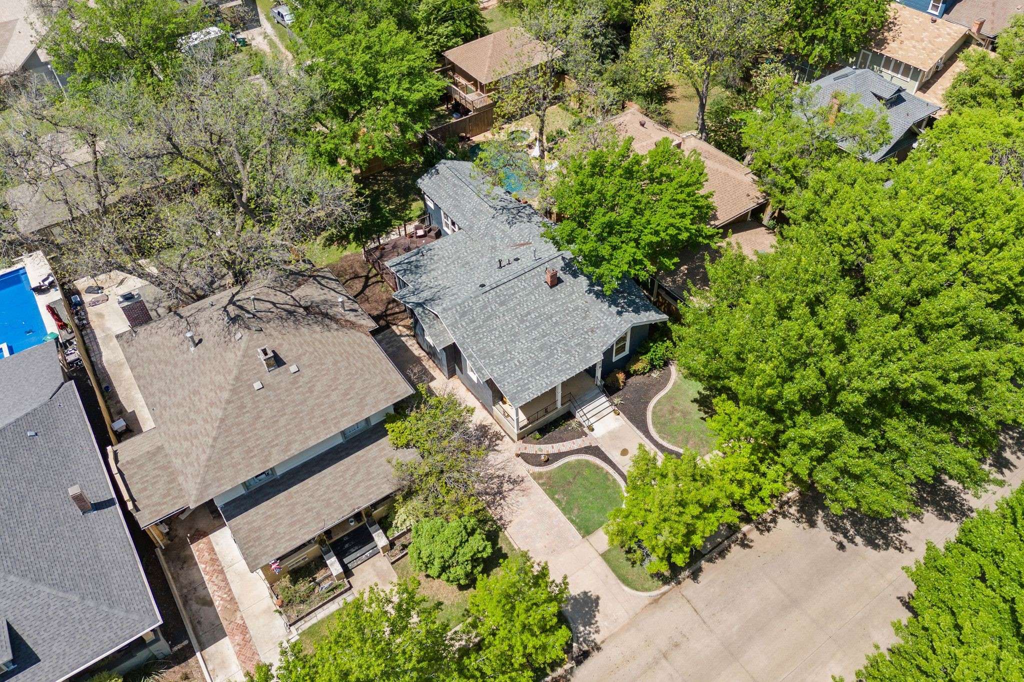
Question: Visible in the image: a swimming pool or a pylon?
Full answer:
It is a swimming pool that can be seen here.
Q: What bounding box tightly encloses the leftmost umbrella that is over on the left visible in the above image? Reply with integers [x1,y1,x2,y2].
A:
[37,305,70,335]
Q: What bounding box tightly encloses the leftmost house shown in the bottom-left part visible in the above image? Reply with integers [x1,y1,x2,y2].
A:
[0,346,166,682]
